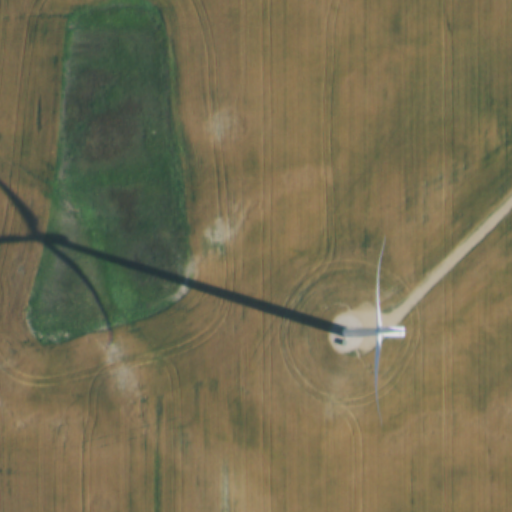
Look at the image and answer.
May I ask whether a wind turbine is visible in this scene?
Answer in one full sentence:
Yes, a wind turbine is visible in the scene.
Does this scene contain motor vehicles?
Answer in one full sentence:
No, the photo shows no motor vehicle.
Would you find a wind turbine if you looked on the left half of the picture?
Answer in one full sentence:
No, there is no wind turbine on the left half of the picture.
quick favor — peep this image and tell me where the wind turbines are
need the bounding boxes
[338,236,406,422]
